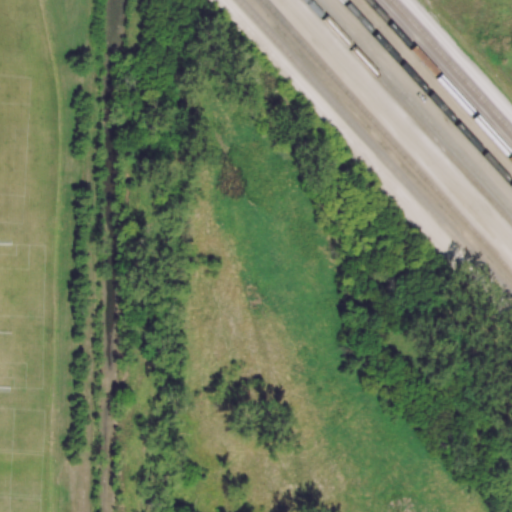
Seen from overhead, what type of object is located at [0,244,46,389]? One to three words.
sports field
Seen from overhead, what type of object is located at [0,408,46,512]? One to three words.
sports field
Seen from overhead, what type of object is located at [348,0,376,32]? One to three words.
rail car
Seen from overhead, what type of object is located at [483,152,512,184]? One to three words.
rail car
